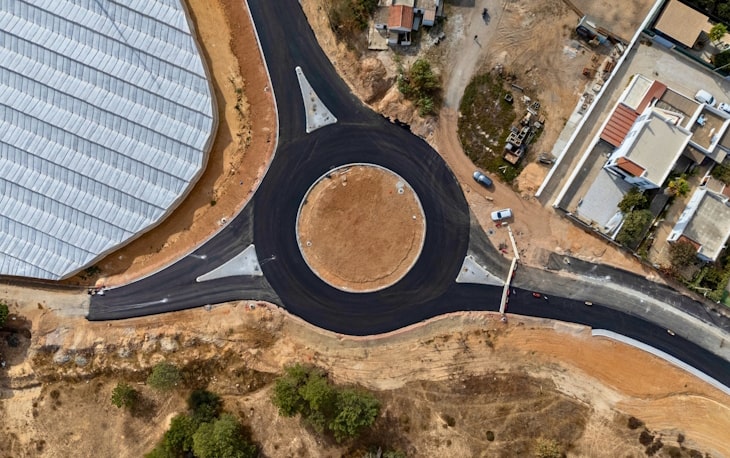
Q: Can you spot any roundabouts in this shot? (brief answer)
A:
Yes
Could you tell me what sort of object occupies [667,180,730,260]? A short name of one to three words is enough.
house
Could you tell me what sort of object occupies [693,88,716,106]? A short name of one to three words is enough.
vehicle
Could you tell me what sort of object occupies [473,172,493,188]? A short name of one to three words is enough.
car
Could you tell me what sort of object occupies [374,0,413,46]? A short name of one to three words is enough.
house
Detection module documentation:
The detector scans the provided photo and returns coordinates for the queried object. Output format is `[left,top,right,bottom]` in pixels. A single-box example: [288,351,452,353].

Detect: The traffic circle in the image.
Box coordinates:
[253,121,469,337]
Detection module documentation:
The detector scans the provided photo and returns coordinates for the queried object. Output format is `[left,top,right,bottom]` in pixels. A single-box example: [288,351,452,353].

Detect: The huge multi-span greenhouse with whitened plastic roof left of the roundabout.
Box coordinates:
[0,0,217,280]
